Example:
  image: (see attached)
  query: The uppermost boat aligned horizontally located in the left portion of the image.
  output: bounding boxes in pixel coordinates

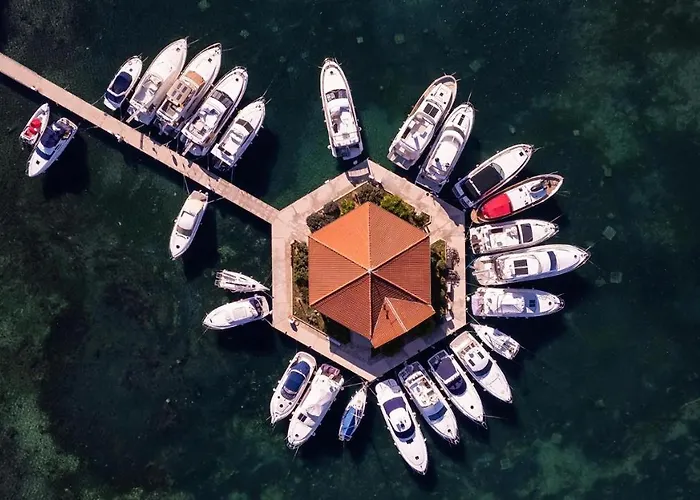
[216,272,275,297]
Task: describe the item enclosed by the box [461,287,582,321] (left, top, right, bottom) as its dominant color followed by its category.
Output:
white boat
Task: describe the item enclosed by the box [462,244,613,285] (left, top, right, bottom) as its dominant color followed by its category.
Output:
white boat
